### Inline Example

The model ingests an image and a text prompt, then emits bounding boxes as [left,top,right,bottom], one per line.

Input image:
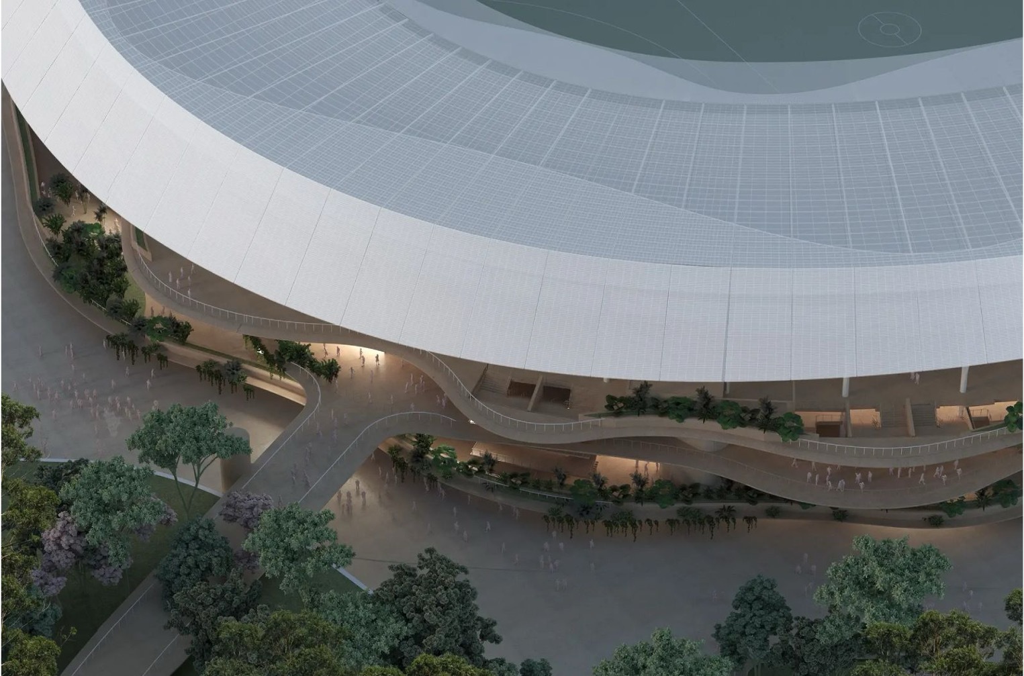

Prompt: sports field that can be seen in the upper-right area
[473,0,1024,64]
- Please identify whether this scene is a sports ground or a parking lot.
sports ground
